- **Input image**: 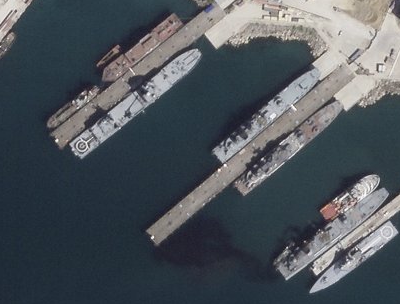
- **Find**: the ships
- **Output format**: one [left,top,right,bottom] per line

[320,176,380,222]
[123,11,184,66]
[310,221,398,293]
[48,84,100,125]
[102,55,134,78]
[235,102,344,195]
[213,70,322,163]
[276,190,389,277]
[97,45,120,66]
[70,49,202,157]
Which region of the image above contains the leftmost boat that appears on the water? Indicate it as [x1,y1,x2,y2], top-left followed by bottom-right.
[0,33,15,59]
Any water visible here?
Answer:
Yes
